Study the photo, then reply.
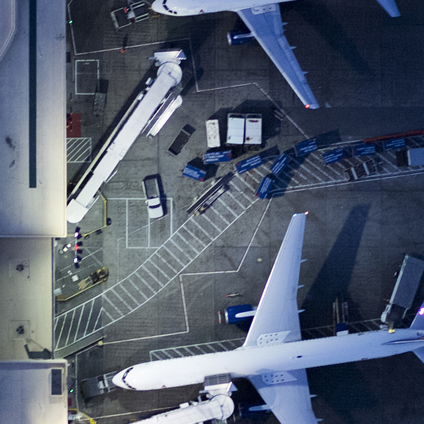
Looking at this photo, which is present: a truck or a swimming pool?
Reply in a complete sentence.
Visible in the photo is a truck.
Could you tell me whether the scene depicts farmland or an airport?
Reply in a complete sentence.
It's an airport.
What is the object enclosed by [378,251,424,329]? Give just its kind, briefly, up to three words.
truck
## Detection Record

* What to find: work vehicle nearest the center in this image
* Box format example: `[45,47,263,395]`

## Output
[189,174,231,214]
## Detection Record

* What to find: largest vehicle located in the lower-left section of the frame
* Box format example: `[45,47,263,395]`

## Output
[68,365,135,405]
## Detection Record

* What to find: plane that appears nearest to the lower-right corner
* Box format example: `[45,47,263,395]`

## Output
[112,211,424,424]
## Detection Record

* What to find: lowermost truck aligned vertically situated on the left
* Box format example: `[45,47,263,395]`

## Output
[142,174,163,218]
